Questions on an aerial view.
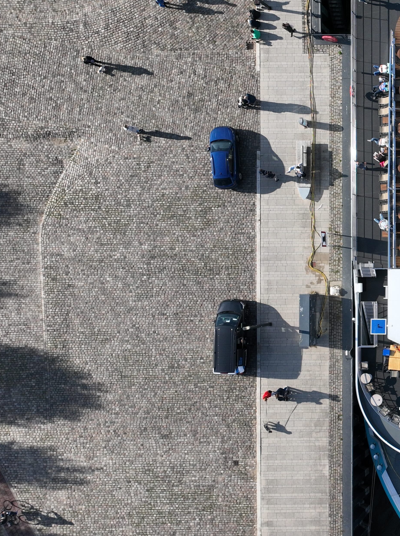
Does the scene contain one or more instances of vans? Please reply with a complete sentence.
Yes, the frame does contain a van.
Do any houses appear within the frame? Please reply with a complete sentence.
No, no house can be seen from above.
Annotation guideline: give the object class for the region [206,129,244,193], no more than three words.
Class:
car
